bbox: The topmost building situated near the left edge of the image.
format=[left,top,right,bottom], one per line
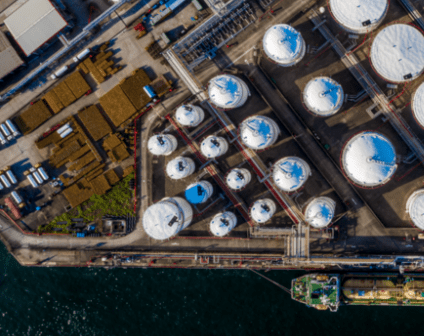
[4,0,77,59]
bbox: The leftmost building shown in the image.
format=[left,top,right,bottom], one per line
[0,26,33,92]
